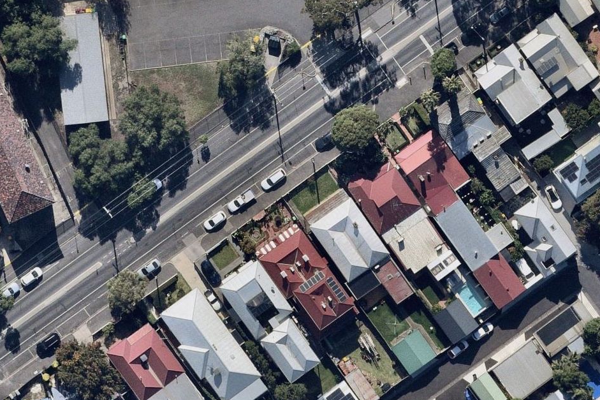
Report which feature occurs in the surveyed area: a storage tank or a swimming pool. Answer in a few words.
swimming pool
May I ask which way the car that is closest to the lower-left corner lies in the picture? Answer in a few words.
at an angle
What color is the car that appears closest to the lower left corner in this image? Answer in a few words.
black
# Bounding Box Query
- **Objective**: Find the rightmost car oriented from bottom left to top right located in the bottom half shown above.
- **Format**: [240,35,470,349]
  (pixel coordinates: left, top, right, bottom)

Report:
[470,321,495,343]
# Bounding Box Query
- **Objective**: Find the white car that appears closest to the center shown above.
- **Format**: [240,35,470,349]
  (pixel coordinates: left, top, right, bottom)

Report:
[261,168,286,189]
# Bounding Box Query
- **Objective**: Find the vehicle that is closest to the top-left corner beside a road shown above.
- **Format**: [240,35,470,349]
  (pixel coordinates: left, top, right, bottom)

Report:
[148,175,169,193]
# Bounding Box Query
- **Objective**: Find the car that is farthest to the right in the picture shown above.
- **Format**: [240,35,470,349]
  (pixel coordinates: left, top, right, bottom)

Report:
[545,184,562,211]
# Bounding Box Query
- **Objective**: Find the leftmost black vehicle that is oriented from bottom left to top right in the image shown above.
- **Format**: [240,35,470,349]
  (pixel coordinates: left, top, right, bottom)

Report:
[36,334,61,356]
